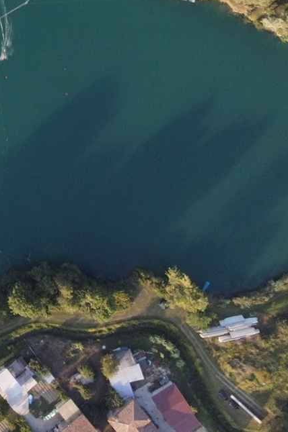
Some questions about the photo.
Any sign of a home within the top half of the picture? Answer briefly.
No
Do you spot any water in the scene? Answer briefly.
Yes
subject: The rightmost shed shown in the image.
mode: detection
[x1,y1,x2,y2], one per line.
[149,380,204,432]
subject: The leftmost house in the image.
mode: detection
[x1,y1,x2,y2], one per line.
[0,355,38,417]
